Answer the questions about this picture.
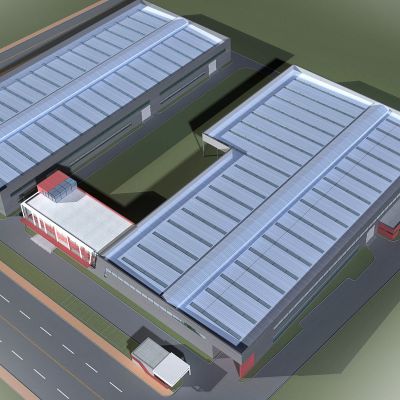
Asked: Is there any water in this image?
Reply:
No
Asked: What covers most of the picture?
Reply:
buildings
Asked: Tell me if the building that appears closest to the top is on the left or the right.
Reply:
left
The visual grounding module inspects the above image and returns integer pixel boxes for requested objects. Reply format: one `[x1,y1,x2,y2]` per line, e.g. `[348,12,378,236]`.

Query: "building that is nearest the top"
[0,0,231,216]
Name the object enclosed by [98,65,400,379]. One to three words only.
building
